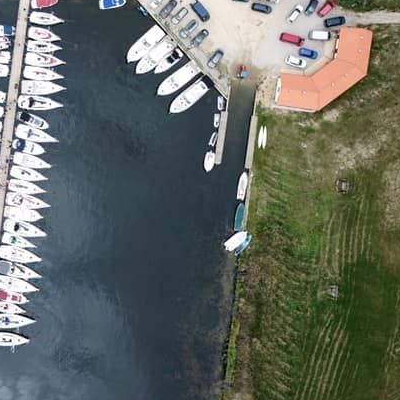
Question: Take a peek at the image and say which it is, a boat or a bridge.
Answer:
boat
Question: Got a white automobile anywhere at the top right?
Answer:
Yes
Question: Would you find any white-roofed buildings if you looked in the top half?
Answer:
No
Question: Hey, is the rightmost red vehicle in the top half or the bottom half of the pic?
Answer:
top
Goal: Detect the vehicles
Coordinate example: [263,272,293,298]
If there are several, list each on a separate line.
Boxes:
[303,0,317,17]
[177,19,199,40]
[278,32,304,48]
[283,55,305,68]
[205,49,225,69]
[189,28,209,48]
[322,16,345,28]
[285,5,303,24]
[250,2,272,14]
[191,0,211,22]
[149,0,163,9]
[315,0,337,20]
[157,0,176,20]
[235,60,250,78]
[307,31,330,40]
[170,7,188,25]
[297,47,318,60]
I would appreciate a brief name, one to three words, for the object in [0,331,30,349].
boat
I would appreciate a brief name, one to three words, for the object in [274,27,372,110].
building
